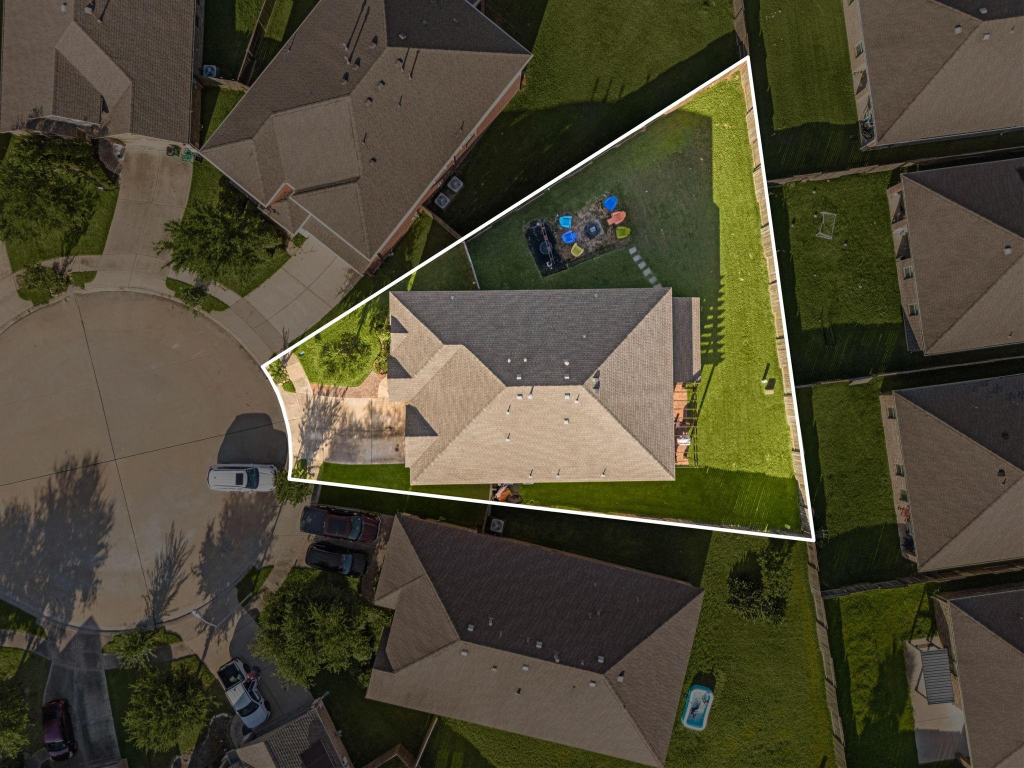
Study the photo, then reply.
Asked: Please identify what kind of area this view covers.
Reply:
residential area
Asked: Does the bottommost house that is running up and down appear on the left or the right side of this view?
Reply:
right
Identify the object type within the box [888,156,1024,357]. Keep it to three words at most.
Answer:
house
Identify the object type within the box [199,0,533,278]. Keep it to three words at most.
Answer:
house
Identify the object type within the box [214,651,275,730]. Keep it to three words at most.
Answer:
truck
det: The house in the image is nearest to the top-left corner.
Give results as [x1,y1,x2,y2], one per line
[0,0,206,160]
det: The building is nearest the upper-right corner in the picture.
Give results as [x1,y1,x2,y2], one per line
[844,0,1024,150]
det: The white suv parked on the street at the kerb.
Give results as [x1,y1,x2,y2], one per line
[207,462,278,494]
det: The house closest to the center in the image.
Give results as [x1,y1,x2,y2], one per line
[388,287,677,486]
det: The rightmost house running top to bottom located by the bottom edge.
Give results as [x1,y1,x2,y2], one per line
[934,582,1024,768]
